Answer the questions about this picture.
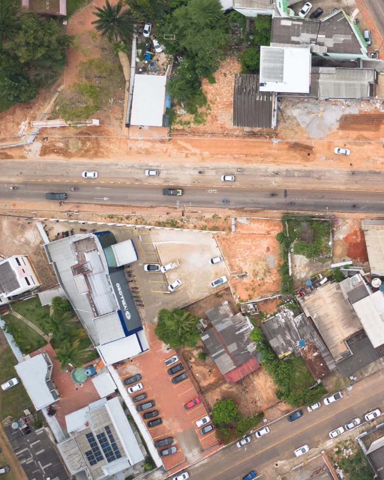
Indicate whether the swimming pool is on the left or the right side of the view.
left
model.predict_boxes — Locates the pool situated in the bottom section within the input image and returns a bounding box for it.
[67,363,97,384]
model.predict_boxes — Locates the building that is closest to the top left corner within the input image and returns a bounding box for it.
[130,74,174,127]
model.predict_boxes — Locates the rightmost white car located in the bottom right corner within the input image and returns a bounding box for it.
[364,409,381,421]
